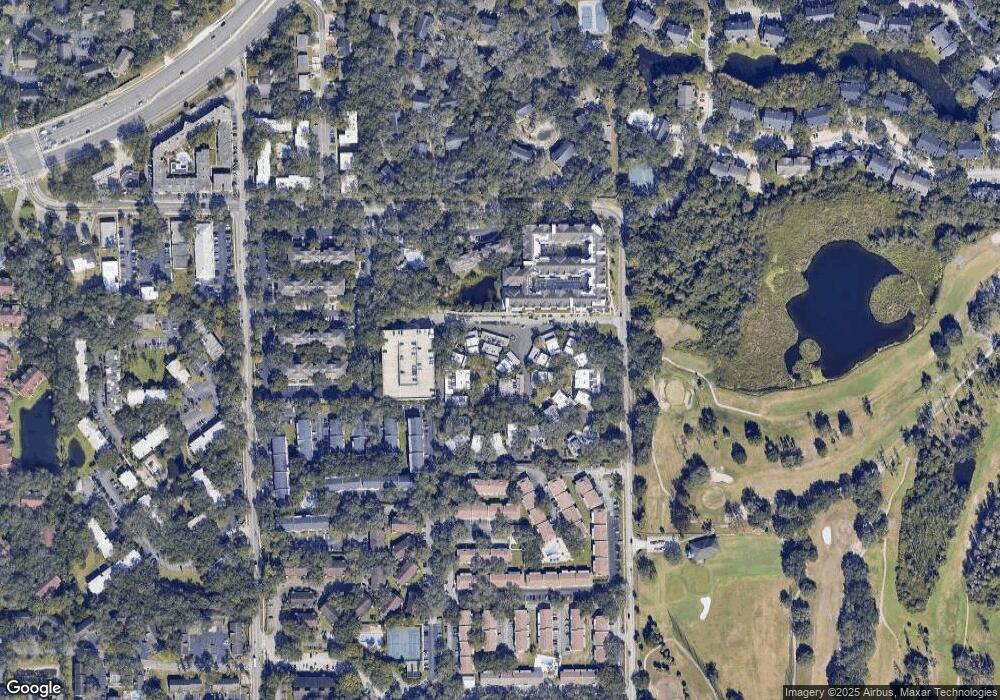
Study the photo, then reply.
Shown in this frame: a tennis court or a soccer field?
tennis court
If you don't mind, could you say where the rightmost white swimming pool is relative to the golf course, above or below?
above it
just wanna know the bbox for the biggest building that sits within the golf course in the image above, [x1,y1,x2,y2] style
[688,535,724,562]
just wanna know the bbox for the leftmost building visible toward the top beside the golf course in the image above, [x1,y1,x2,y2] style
[502,223,607,313]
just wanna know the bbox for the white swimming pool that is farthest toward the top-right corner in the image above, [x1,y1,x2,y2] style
[628,108,654,134]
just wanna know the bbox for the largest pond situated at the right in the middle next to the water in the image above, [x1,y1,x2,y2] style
[785,240,915,380]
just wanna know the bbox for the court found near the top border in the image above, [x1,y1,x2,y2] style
[579,0,608,33]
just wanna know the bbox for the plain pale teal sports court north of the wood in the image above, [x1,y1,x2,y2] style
[629,168,653,186]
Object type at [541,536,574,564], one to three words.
swimming pool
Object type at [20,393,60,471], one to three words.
pond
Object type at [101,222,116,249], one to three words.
building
